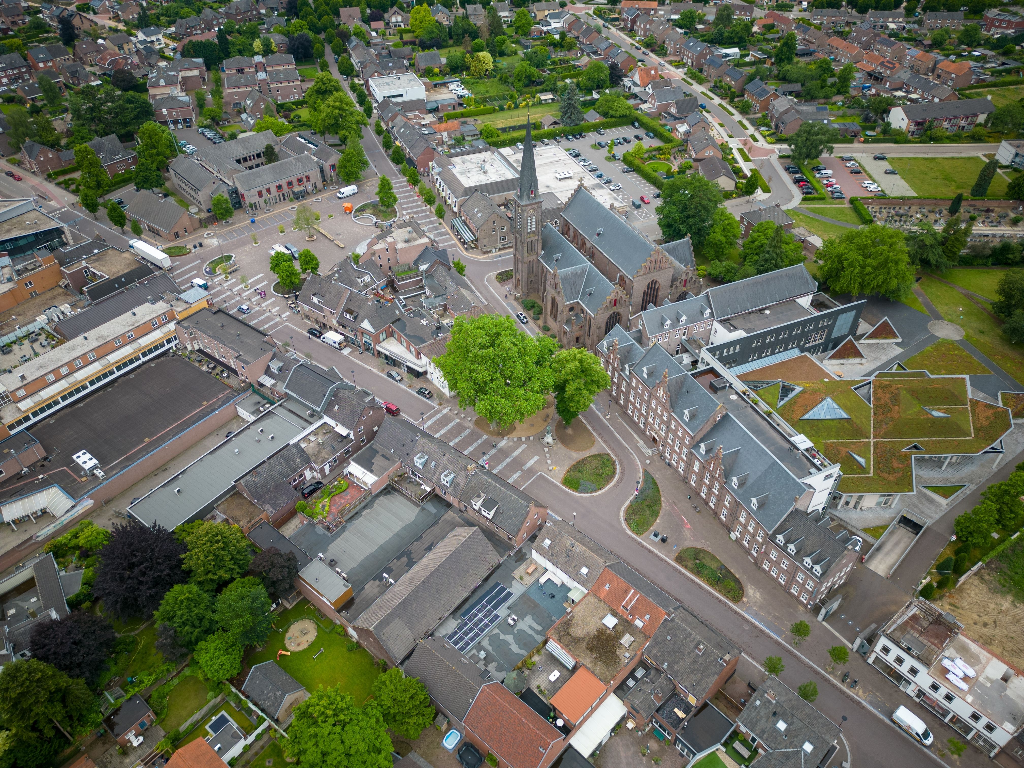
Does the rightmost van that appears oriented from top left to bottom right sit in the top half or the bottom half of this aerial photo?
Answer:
bottom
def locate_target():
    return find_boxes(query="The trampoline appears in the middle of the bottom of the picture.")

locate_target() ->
[453,737,484,768]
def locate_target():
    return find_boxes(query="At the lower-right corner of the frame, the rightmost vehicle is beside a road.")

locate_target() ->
[885,703,935,749]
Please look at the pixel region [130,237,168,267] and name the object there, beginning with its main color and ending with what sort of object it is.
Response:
white truck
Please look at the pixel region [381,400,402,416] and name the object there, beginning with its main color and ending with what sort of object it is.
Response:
red car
